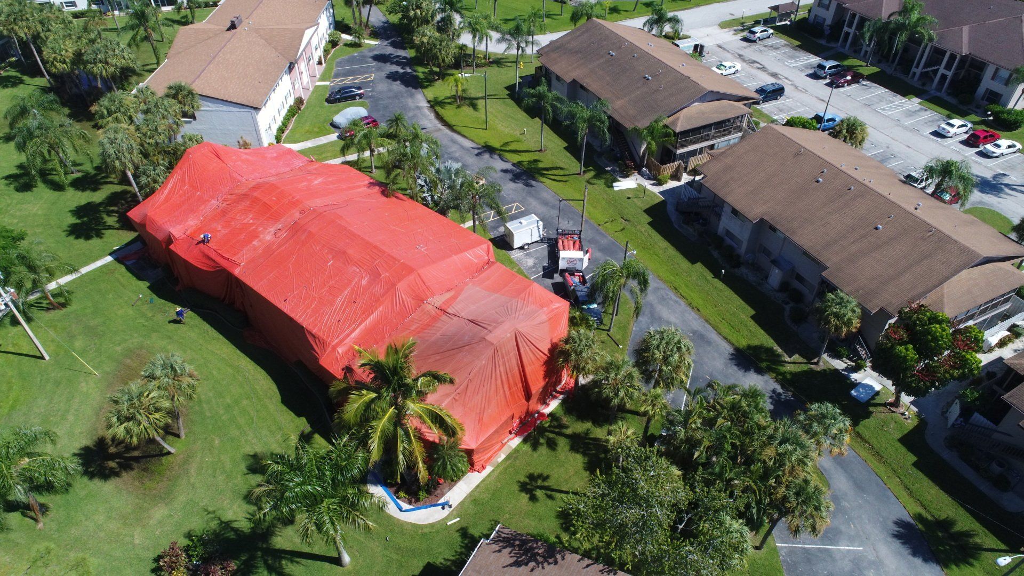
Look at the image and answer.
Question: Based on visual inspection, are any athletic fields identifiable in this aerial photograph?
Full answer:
No, there isn't any athletic field down there.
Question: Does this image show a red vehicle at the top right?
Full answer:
Yes, a red vehicle appears at the top right.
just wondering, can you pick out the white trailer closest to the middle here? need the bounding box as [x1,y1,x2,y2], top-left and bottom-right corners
[505,210,554,246]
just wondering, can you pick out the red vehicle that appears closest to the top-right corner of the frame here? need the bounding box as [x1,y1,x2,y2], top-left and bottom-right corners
[964,130,1000,149]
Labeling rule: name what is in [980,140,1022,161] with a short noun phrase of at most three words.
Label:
car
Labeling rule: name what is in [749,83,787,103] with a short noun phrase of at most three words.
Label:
car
